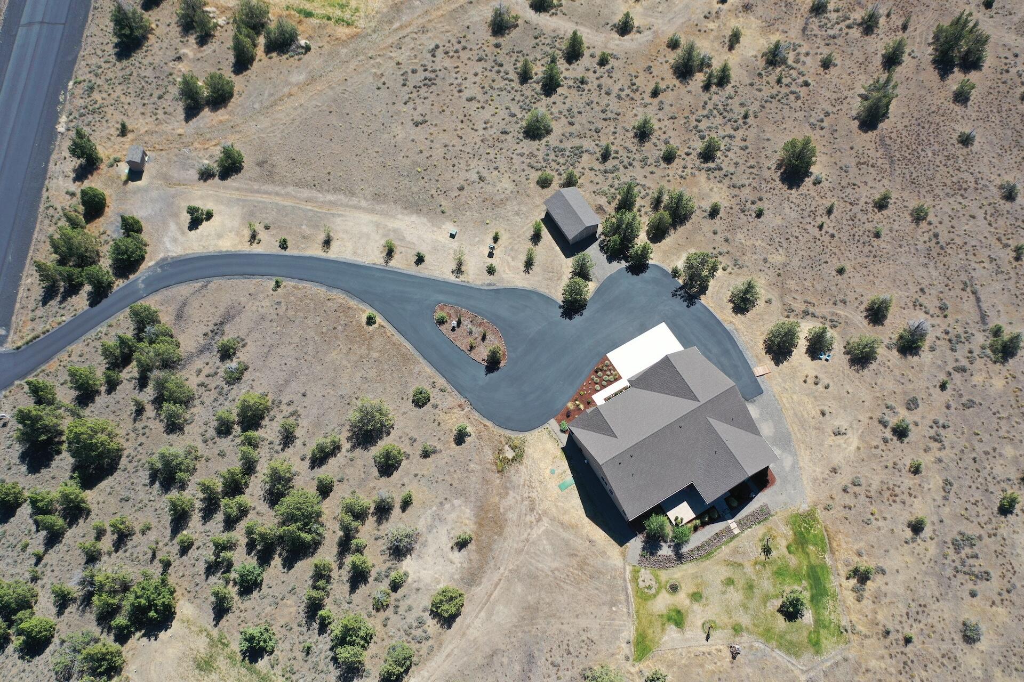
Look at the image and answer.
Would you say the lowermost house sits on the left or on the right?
right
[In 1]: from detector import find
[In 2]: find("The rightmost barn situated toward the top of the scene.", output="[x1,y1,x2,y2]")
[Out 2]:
[544,187,602,246]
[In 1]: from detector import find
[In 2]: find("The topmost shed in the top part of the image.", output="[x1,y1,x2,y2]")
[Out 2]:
[124,145,153,171]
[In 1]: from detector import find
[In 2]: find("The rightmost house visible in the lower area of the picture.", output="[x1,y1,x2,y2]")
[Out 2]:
[566,342,782,524]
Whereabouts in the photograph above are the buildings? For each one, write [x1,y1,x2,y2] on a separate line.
[544,187,602,246]
[566,342,782,524]
[124,145,153,171]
